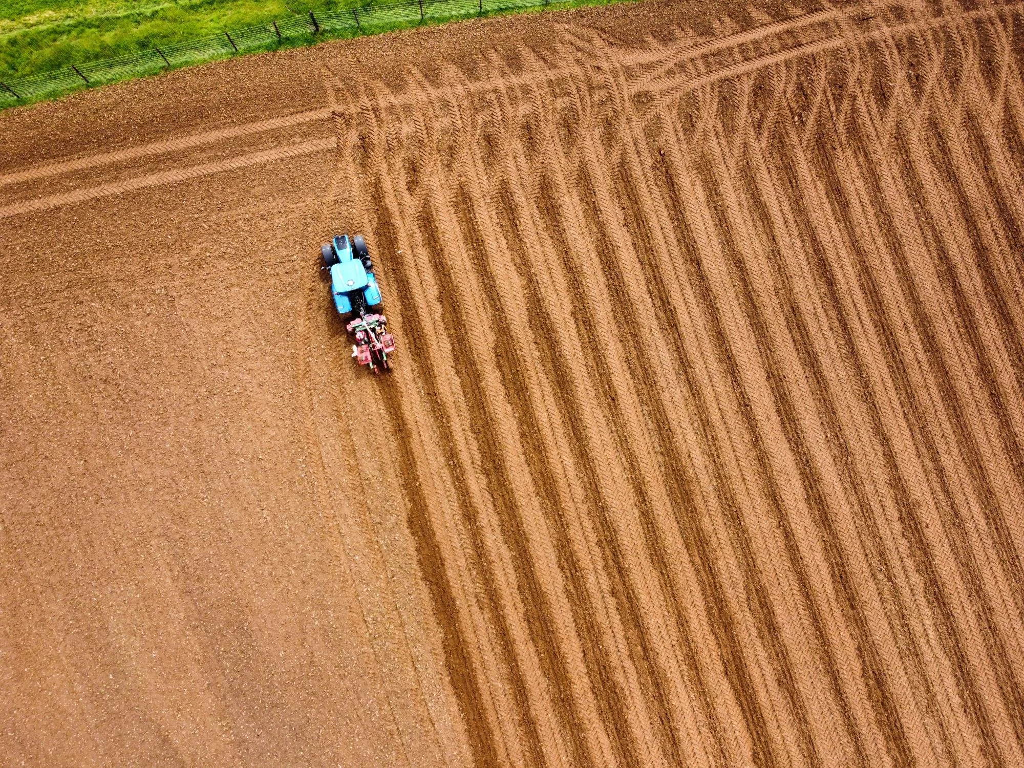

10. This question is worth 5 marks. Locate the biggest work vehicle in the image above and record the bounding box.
[321,234,384,320]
